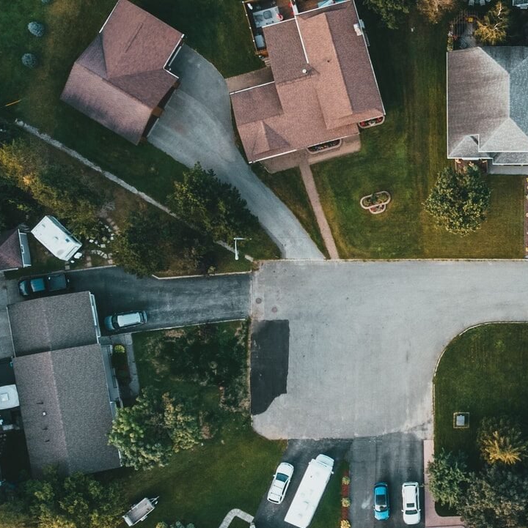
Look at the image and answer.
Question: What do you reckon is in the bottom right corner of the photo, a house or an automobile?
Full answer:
Looking in the bottom right corner of the photo, you will find an automobile.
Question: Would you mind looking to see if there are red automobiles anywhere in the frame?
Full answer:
No, there is no red automobile in the image.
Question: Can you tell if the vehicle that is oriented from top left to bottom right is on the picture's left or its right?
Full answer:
It is on the left.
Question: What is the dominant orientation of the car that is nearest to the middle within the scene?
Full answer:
The car that is nearest to the middle is oriented from left to right.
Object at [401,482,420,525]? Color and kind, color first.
white car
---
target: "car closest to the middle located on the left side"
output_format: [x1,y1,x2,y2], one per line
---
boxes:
[104,310,149,332]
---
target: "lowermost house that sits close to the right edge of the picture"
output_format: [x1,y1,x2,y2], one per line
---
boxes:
[447,46,528,165]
